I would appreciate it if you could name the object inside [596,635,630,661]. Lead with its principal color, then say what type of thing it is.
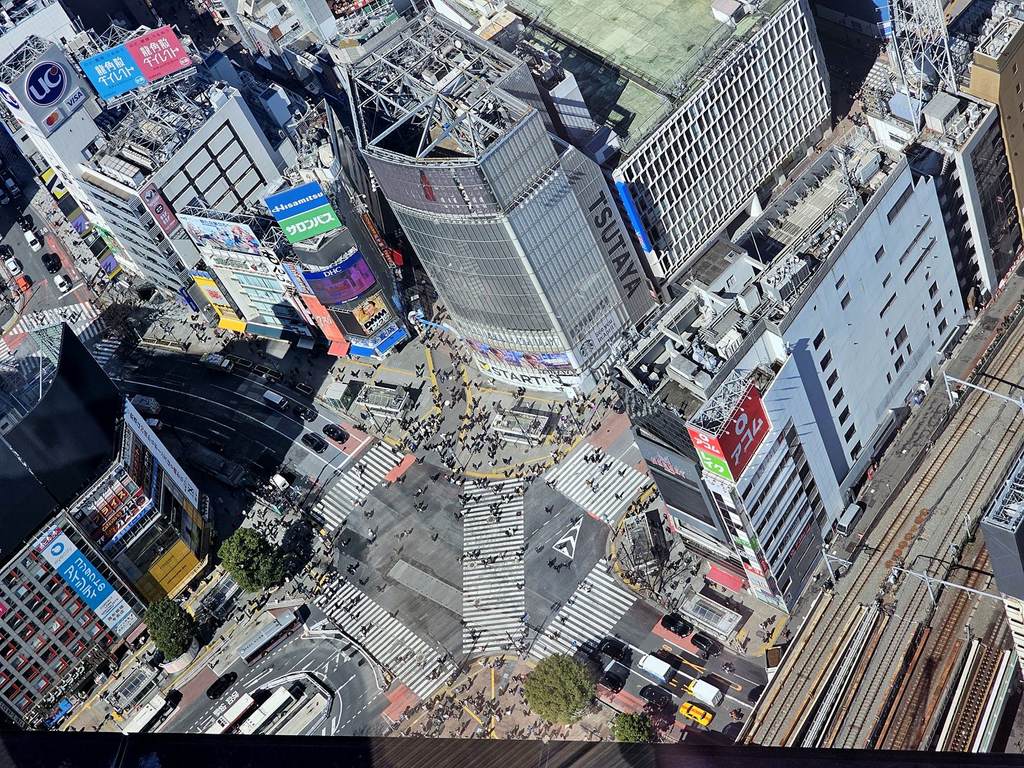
black car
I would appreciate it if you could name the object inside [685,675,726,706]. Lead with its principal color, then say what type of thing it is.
white truck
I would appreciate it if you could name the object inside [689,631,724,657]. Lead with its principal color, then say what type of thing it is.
black car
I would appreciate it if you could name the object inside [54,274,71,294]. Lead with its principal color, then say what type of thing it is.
white car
